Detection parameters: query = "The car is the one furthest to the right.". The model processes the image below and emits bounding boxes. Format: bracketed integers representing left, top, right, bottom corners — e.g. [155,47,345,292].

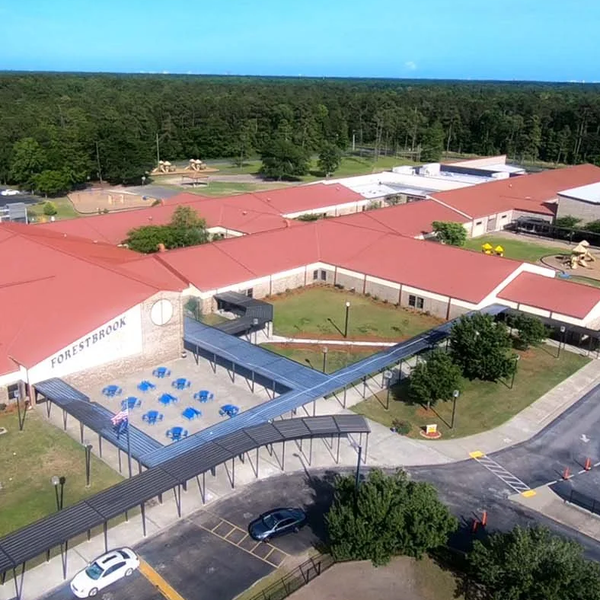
[244,504,308,540]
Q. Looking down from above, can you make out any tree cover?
Yes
